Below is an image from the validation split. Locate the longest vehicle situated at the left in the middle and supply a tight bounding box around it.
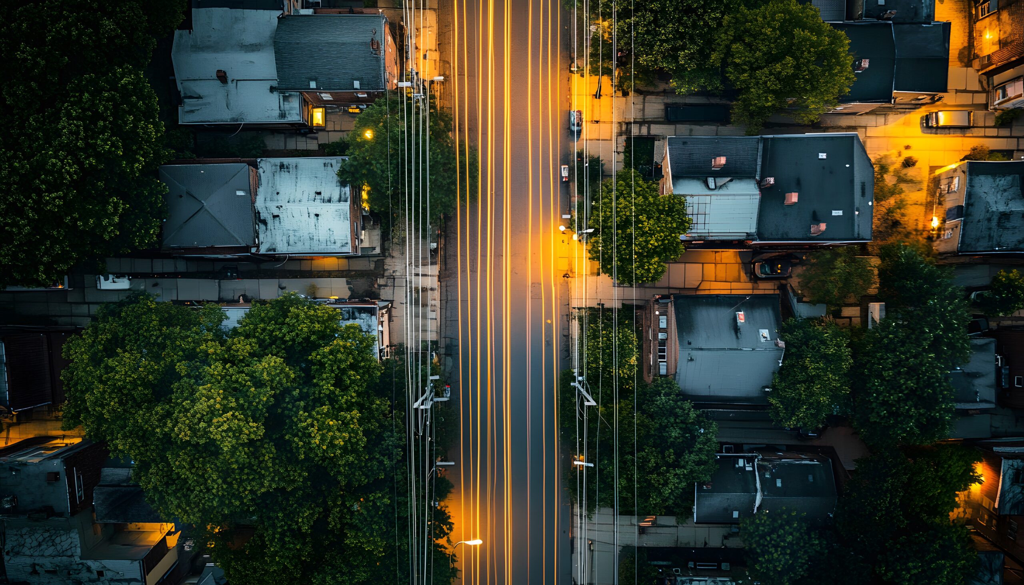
[97,274,135,291]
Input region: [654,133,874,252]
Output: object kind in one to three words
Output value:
house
